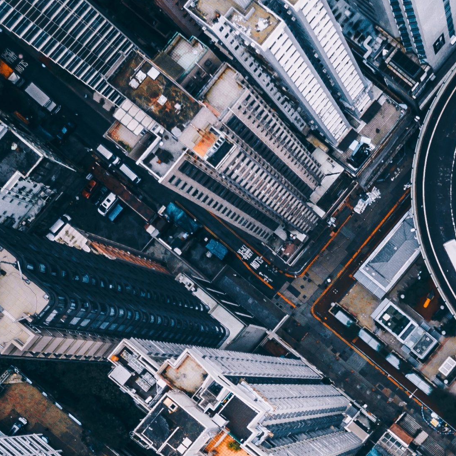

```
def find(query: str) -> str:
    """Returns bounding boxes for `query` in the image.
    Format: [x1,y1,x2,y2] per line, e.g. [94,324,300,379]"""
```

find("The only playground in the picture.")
[409,285,439,331]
